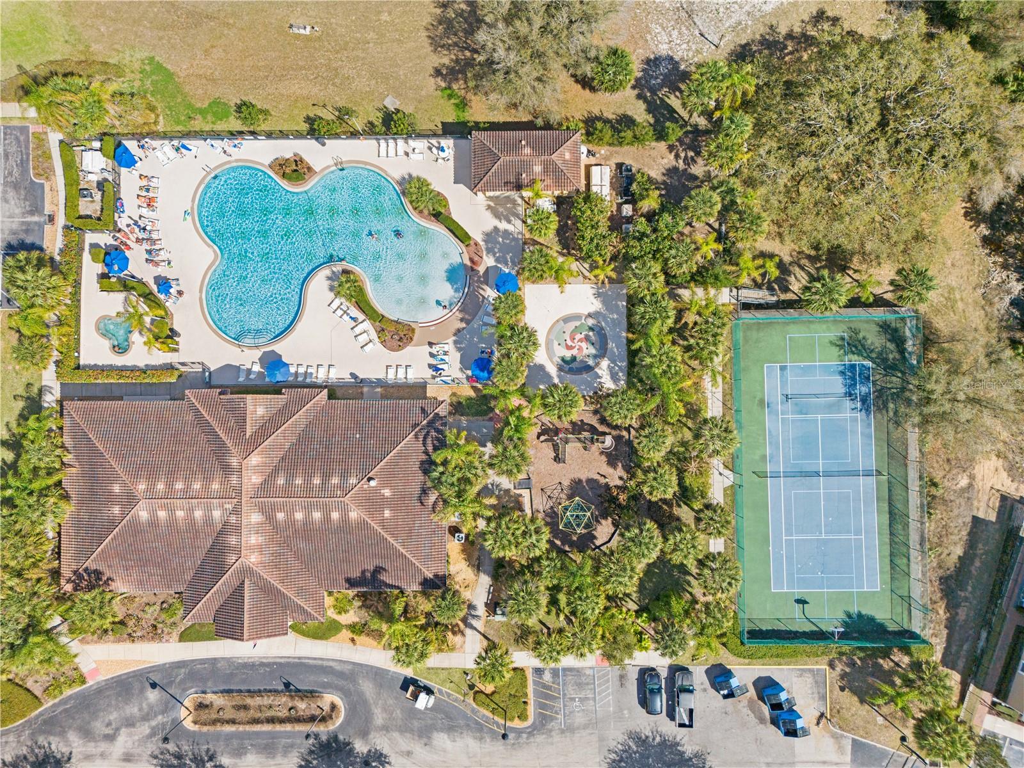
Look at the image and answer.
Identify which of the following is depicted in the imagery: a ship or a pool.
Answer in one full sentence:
There is a pool in the scene.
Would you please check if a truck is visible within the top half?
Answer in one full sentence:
No, looking within the top half, there is no truck.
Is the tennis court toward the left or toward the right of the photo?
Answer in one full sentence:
It is on the right.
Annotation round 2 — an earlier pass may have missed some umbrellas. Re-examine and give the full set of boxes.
[470,356,494,381]
[495,271,518,294]
[105,249,132,275]
[159,279,179,295]
[265,358,291,383]
[113,143,141,170]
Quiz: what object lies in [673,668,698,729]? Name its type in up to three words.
truck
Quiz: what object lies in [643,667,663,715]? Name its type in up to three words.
car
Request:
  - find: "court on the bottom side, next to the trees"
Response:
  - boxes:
[733,318,912,634]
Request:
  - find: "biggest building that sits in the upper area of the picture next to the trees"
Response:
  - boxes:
[471,130,584,194]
